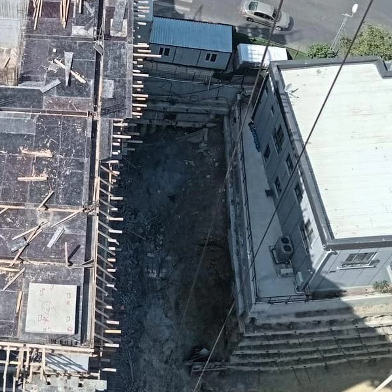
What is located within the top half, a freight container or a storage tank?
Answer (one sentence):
What appears within the top half is a freight container.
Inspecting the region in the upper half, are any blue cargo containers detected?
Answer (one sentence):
Yes, looking in the upper half, one can make out a blue cargo container.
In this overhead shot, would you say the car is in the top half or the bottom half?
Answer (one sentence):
You can find the car in the top half.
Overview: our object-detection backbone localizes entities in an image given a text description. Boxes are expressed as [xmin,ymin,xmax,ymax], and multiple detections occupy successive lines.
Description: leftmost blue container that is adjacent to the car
[149,17,232,71]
